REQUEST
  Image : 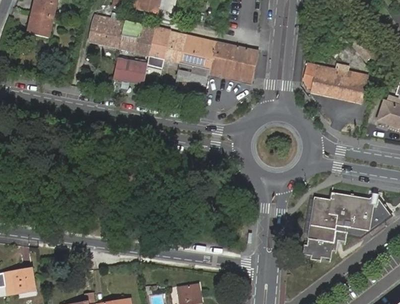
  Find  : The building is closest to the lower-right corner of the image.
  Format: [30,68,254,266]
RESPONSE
[303,192,390,262]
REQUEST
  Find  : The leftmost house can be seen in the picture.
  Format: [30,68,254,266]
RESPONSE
[0,267,36,297]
